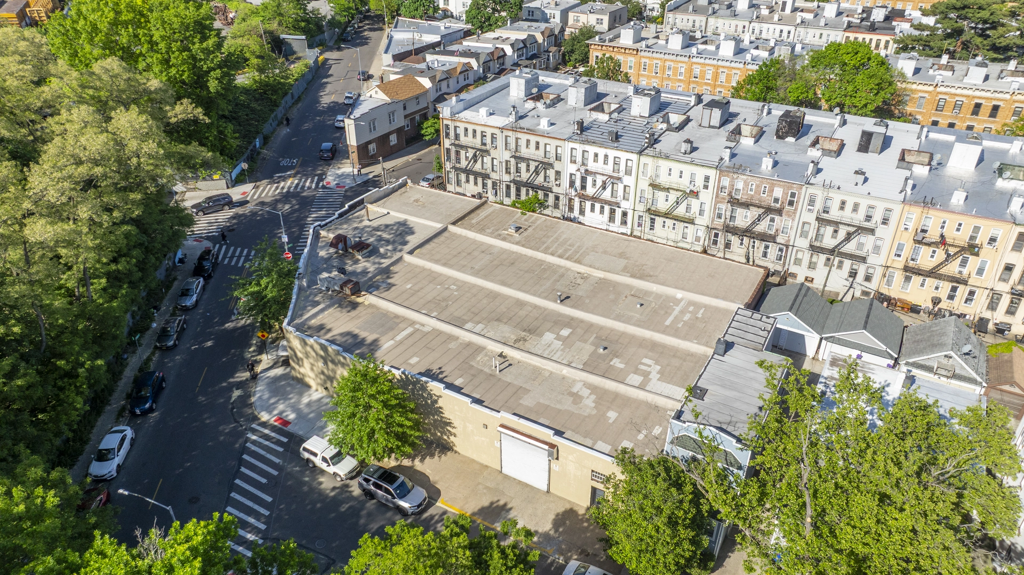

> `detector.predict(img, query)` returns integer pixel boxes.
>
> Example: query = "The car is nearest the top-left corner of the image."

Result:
[188,192,234,213]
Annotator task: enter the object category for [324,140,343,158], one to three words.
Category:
car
